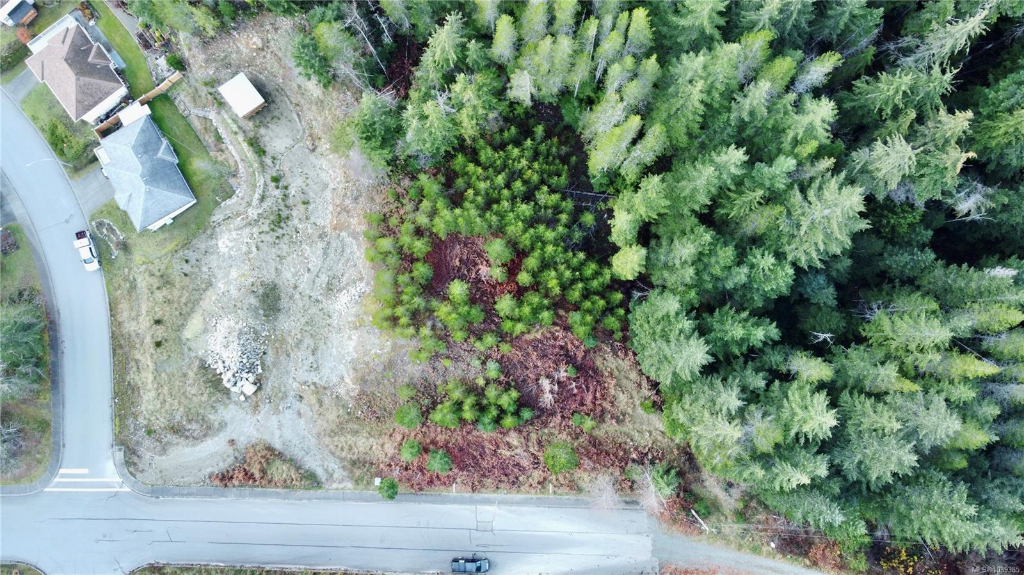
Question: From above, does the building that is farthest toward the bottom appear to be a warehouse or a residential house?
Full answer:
The building that is farthest toward the bottom in the image is a residential house.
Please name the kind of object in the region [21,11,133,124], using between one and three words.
house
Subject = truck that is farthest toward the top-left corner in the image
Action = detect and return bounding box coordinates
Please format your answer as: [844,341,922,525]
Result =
[73,229,103,273]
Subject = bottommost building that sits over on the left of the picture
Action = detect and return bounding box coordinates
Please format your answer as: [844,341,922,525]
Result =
[94,115,200,232]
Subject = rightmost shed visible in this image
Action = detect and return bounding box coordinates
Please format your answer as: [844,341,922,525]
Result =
[219,72,271,121]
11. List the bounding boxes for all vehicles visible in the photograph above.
[450,556,491,575]
[73,229,103,273]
